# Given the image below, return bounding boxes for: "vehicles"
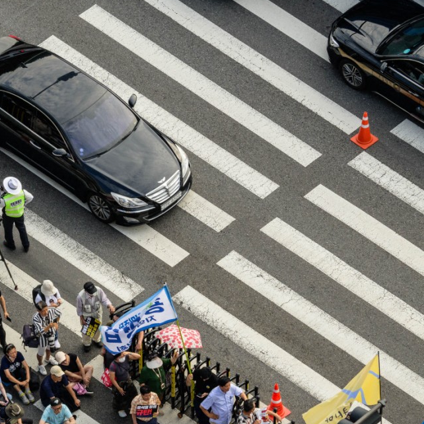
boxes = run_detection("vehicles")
[0,34,196,228]
[324,1,424,131]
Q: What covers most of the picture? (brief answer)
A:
paved ground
